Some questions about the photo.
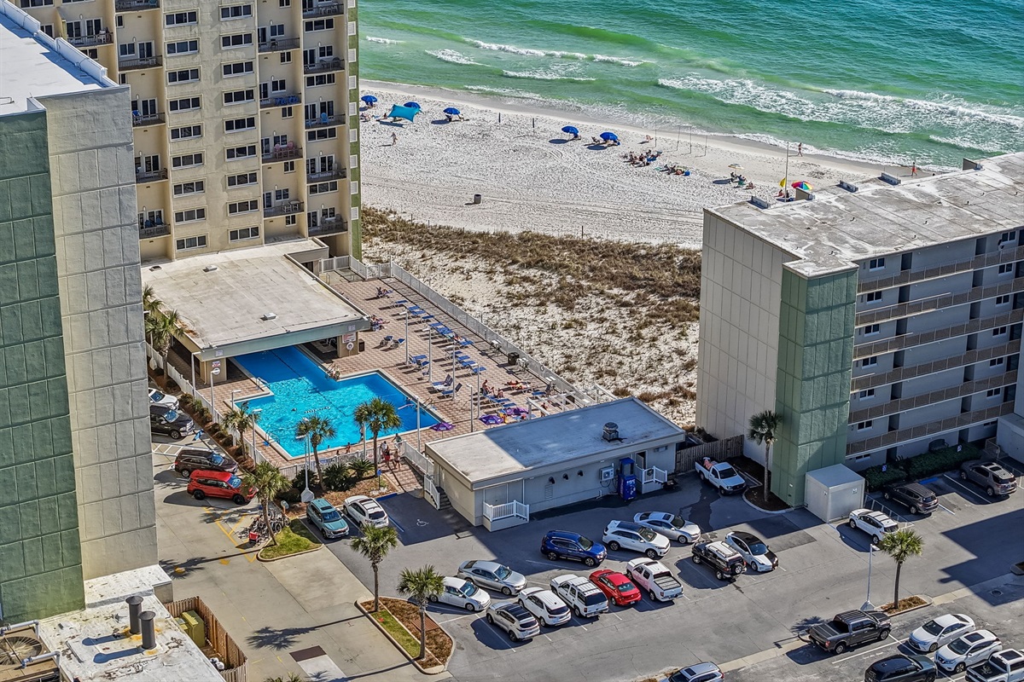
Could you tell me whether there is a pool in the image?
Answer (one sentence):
Yes, you can see a pool in this photo.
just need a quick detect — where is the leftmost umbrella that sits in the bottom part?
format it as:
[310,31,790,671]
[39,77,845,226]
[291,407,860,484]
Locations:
[431,416,455,428]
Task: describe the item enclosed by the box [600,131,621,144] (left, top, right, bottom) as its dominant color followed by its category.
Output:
blue umbrella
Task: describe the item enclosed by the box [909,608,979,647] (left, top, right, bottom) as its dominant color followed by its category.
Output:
white car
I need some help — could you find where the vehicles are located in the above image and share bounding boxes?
[188,470,260,503]
[856,647,938,682]
[959,645,1024,682]
[305,497,350,538]
[951,458,1017,496]
[424,575,493,610]
[589,568,640,607]
[599,519,672,558]
[909,608,979,647]
[515,586,572,628]
[623,556,682,602]
[878,479,940,515]
[815,611,898,656]
[149,409,192,442]
[934,625,1008,669]
[342,491,390,527]
[537,528,609,566]
[843,507,902,542]
[655,664,723,682]
[723,528,775,568]
[632,508,701,540]
[483,601,544,644]
[173,446,241,476]
[460,559,532,593]
[692,457,749,493]
[550,573,609,619]
[147,380,187,411]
